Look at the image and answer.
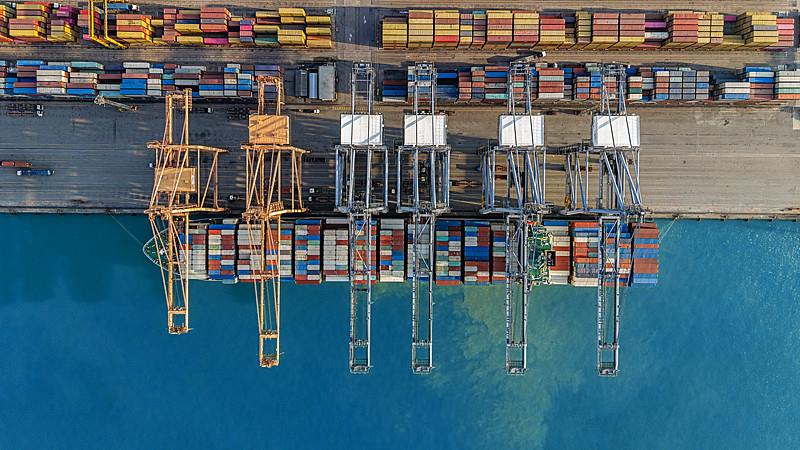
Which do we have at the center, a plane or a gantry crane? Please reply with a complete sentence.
You can see a gantry crane at the center.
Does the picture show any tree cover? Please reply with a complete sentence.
No, the picture contains no tree cover.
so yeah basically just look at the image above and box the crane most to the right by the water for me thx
[547,64,644,377]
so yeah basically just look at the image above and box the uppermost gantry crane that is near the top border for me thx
[88,0,128,52]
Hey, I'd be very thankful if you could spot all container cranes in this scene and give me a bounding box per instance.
[144,88,243,334]
[331,62,394,374]
[547,64,644,377]
[241,77,323,367]
[468,57,548,375]
[88,0,128,52]
[392,62,454,374]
